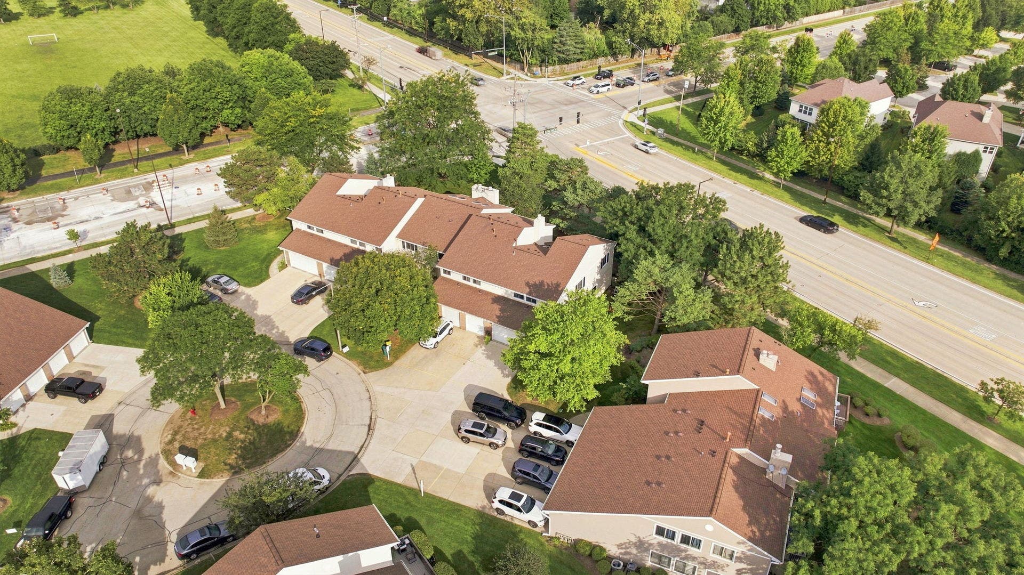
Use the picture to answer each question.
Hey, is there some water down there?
No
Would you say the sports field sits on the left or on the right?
left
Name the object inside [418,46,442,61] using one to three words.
vehicle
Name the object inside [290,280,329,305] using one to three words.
car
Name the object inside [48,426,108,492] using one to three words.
trailer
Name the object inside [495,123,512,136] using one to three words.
vehicle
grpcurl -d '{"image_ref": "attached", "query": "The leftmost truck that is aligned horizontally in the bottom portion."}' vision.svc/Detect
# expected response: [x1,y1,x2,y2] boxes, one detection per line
[39,375,106,403]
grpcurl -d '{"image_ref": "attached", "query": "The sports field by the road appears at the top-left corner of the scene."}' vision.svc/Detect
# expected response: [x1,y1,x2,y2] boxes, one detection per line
[0,0,253,139]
